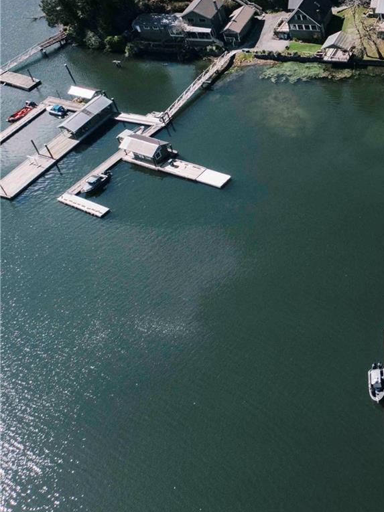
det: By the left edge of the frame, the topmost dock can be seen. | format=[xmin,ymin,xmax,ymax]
[0,25,75,75]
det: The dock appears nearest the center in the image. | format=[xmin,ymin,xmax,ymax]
[198,169,231,190]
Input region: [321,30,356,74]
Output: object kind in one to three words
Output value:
building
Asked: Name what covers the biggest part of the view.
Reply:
water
